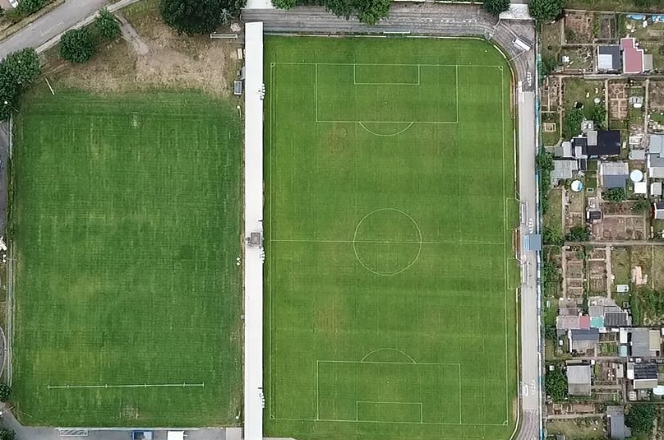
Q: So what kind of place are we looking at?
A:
sports ground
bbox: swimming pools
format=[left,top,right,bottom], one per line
[570,180,583,191]
[653,384,664,394]
[630,169,643,181]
